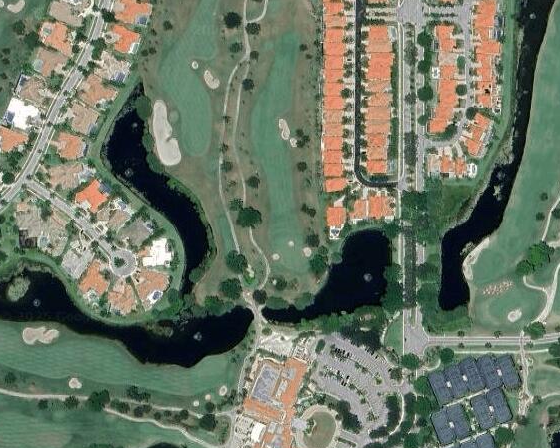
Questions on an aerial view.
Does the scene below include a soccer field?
No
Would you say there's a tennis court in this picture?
Yes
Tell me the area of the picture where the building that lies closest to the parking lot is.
bottom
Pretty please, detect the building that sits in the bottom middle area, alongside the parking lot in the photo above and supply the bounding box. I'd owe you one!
[241,356,310,448]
